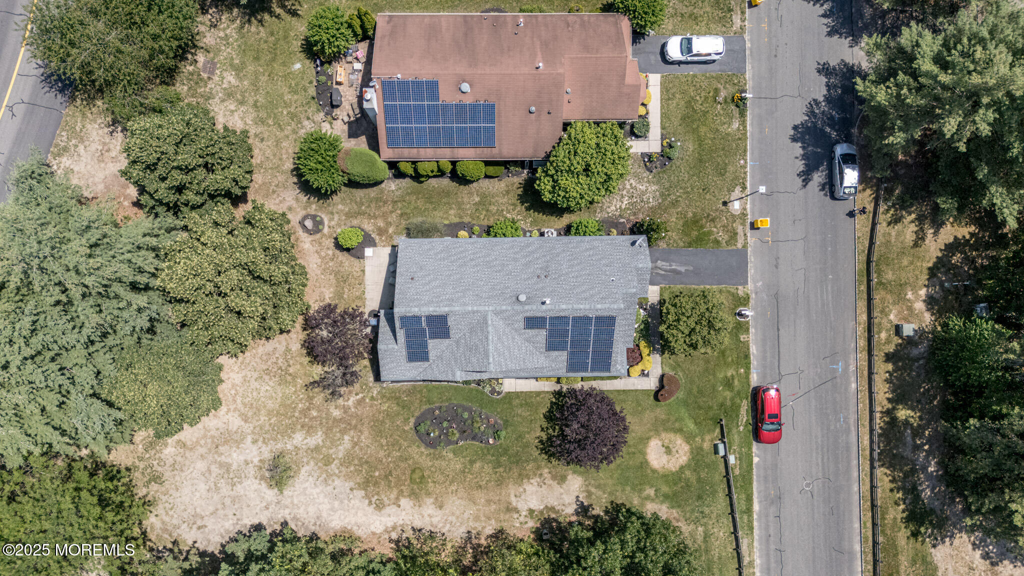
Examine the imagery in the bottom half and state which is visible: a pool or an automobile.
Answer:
automobile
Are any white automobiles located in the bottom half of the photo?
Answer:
No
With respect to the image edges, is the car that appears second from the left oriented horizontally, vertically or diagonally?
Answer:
vertically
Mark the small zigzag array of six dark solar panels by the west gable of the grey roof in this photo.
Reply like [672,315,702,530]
[399,314,450,362]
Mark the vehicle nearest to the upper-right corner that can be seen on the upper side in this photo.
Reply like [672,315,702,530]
[829,144,860,200]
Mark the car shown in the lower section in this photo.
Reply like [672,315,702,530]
[754,385,786,444]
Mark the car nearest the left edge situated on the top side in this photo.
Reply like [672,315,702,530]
[664,31,726,63]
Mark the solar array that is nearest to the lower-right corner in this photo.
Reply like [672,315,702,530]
[524,314,616,373]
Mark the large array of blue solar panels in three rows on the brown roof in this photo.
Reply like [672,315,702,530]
[382,78,496,147]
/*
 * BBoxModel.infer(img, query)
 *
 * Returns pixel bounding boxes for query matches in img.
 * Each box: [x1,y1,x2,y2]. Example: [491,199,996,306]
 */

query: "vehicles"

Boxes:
[754,385,786,444]
[829,144,860,200]
[664,31,726,63]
